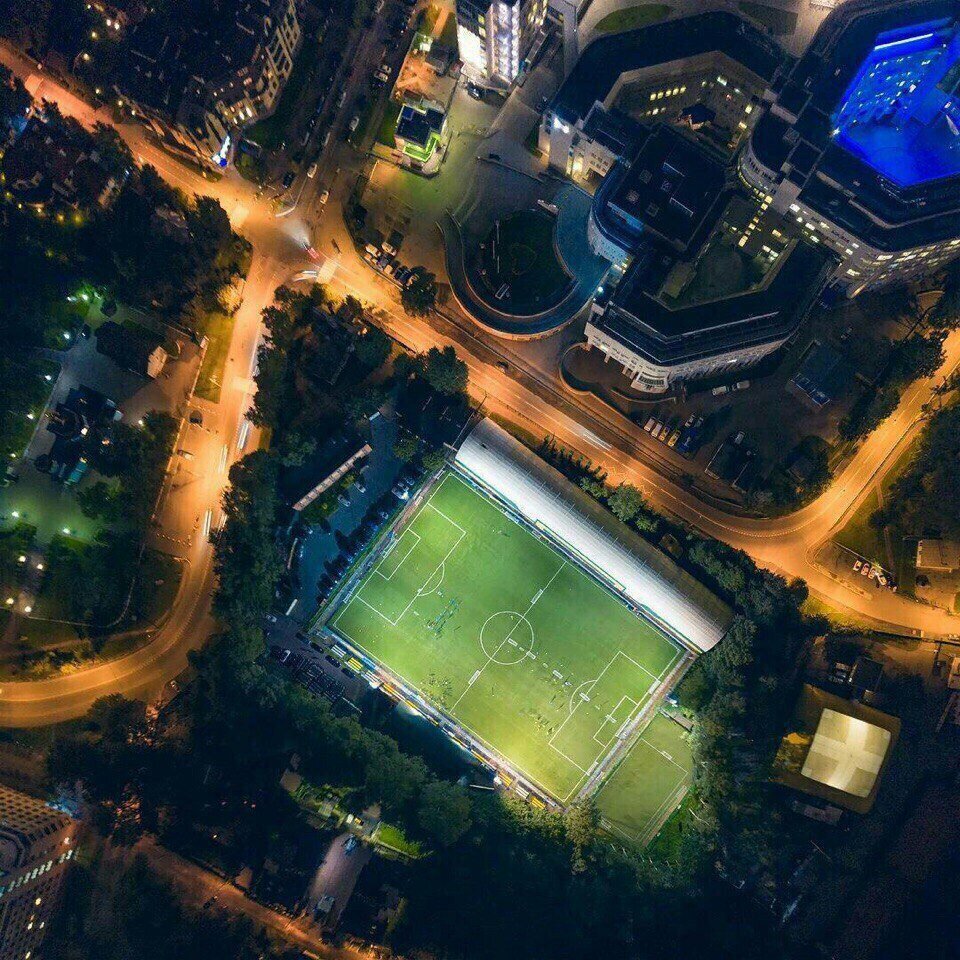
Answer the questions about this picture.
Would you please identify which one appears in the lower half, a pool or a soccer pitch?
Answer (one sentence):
Looking in the lower half, you will find a soccer pitch.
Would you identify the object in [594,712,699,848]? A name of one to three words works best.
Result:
soccer field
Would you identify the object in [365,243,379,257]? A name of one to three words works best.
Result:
vehicle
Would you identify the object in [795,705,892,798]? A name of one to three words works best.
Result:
building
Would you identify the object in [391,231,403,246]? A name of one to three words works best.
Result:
vehicle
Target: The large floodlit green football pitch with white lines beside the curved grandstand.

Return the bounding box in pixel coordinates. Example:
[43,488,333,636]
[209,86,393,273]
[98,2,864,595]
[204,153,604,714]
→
[303,448,716,832]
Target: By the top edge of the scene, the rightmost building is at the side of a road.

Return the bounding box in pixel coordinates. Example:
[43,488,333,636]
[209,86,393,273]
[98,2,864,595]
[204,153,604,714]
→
[726,0,960,286]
